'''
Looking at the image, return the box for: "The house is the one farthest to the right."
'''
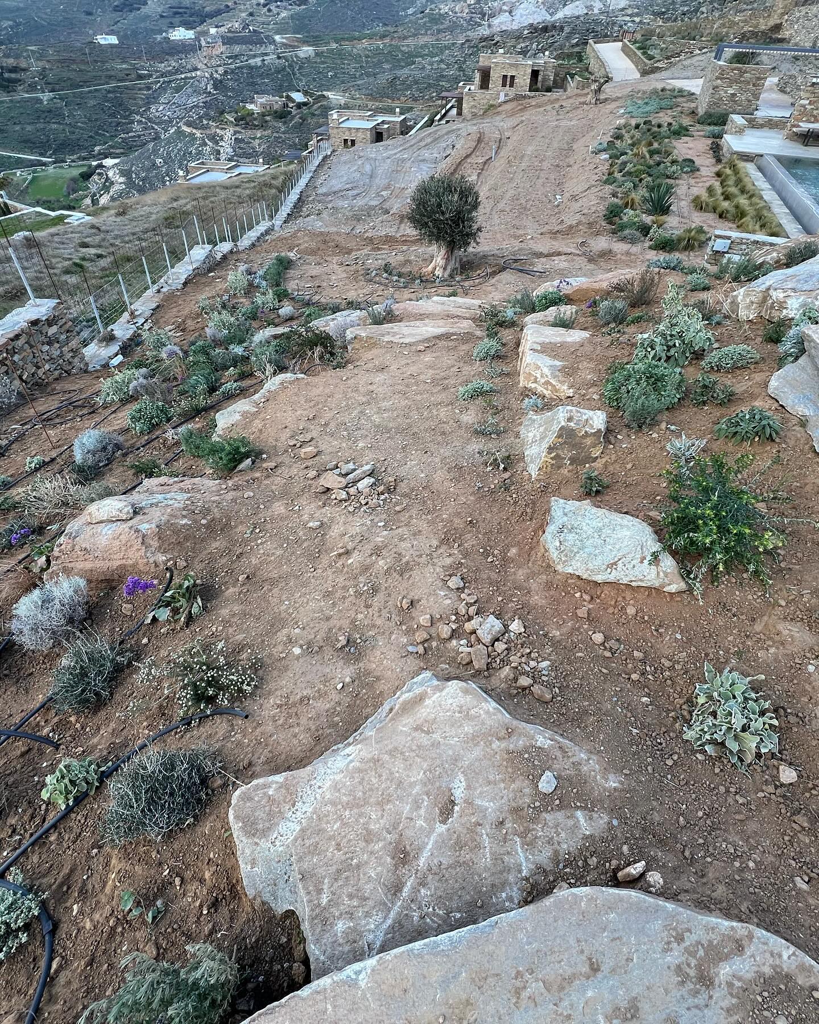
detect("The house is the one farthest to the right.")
[473,47,557,94]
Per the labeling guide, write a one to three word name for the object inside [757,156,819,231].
swimming pool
